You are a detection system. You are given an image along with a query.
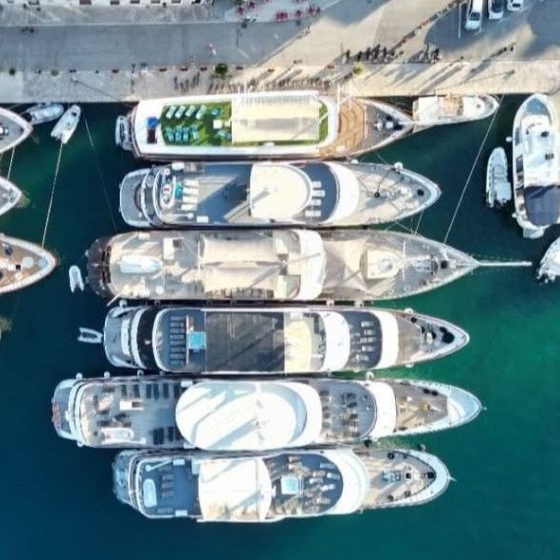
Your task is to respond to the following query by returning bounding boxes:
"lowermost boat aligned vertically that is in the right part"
[536,239,560,286]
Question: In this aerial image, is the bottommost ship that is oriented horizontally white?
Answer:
Yes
